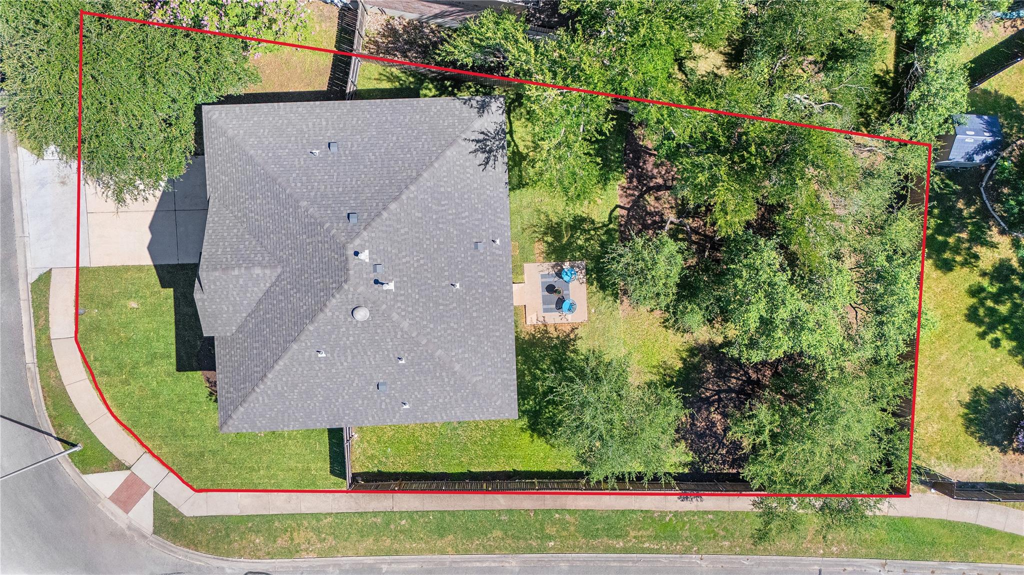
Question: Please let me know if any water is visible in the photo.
No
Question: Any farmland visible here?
No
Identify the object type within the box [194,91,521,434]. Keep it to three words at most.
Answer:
house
